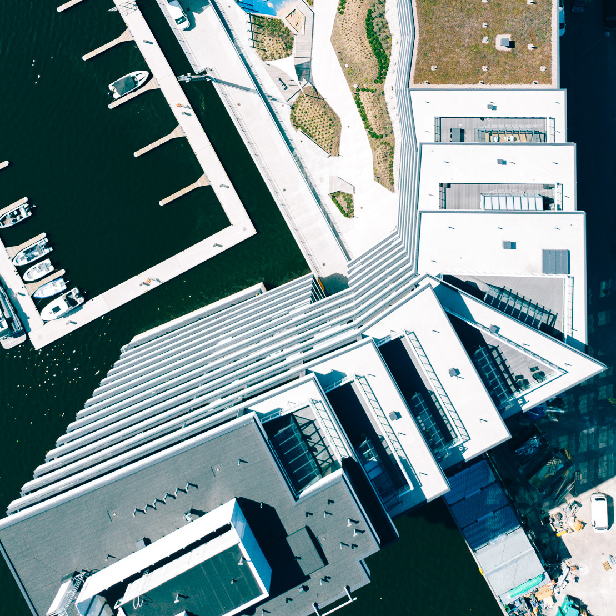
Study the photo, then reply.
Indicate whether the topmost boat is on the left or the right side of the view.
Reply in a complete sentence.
You can find the topmost boat on the left side of the picture.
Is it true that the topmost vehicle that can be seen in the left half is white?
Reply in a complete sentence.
Yes, white is the color of the topmost vehicle that can be seen in the left half.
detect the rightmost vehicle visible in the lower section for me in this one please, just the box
[591,490,609,528]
